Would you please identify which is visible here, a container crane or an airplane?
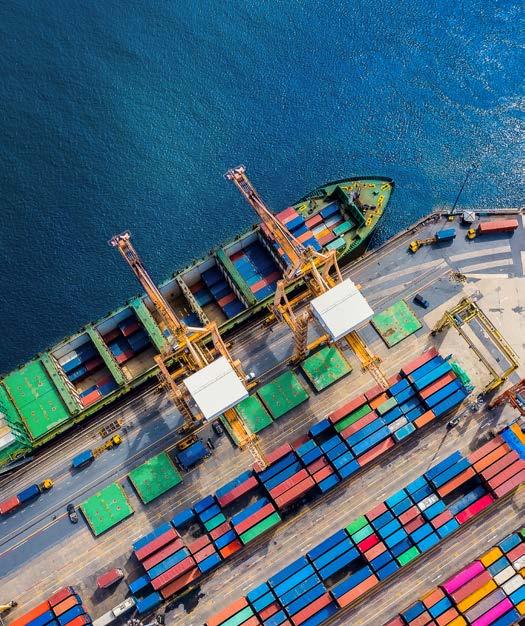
container crane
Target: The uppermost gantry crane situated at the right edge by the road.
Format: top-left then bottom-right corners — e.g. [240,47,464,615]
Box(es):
[428,300,523,396]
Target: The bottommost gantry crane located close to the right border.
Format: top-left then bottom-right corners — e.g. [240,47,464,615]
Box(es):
[486,380,525,421]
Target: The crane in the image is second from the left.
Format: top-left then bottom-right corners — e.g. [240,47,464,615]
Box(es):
[229,166,397,388]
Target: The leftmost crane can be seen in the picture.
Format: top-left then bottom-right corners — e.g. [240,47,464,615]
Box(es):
[109,227,270,469]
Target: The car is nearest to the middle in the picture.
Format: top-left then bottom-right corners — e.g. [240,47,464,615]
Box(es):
[244,370,260,385]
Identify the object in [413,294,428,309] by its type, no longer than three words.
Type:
vehicle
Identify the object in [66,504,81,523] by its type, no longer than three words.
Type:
vehicle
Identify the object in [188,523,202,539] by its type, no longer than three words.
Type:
work vehicle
